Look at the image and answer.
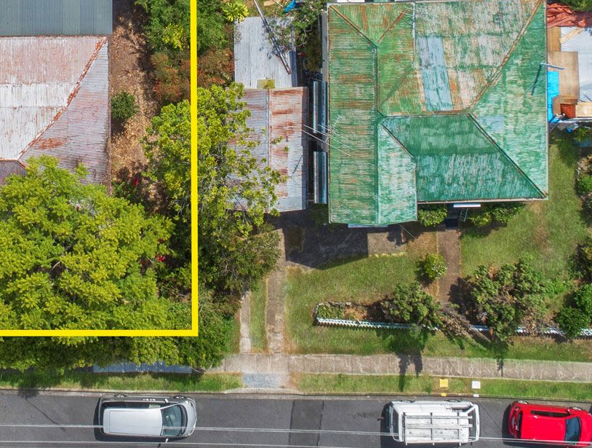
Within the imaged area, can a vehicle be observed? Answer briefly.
Yes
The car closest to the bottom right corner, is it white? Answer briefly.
No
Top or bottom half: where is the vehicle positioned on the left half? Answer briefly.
bottom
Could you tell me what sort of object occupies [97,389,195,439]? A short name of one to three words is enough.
vehicle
